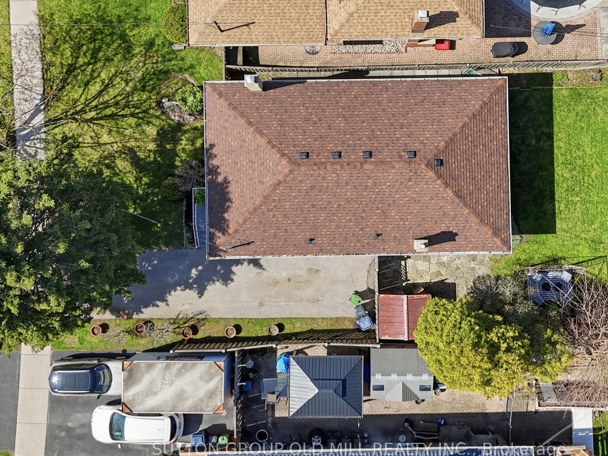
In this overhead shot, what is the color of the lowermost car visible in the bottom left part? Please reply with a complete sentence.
In this view, the lowermost car visible in the bottom left part is white.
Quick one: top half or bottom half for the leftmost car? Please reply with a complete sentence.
It is in the bottom half that the leftmost car appears.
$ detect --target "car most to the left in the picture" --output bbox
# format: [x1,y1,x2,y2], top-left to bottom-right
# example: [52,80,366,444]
[48,355,132,399]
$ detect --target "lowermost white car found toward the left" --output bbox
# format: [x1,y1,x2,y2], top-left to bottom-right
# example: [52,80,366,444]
[94,398,186,445]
